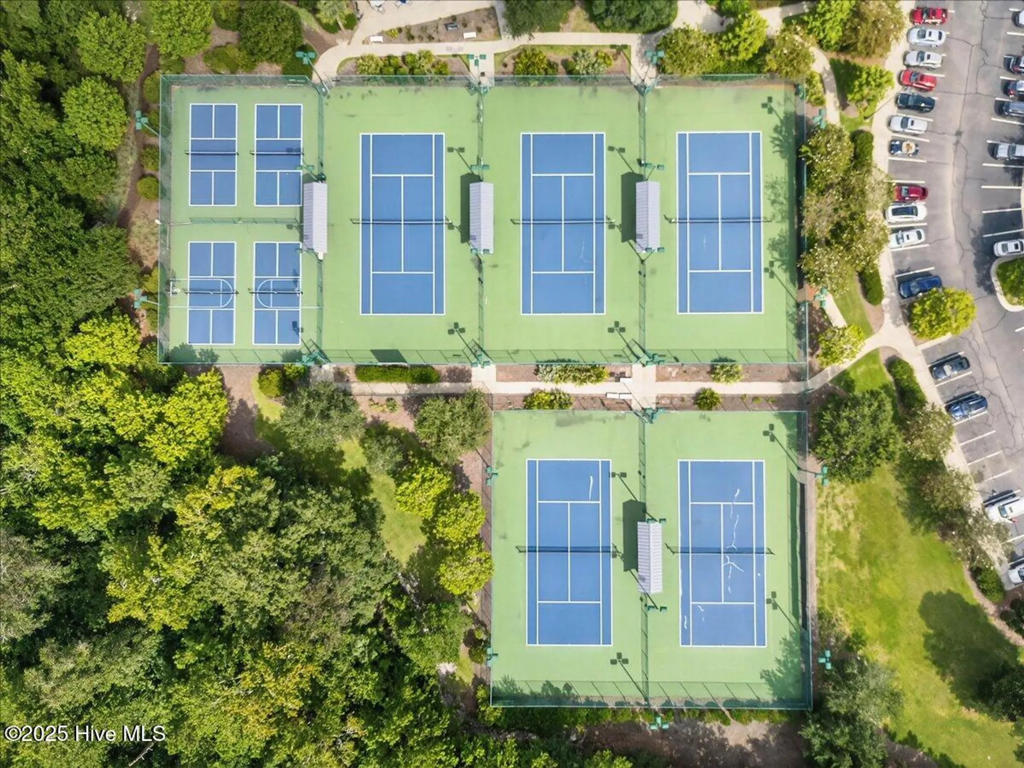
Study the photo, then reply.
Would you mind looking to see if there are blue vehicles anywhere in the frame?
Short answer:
Yes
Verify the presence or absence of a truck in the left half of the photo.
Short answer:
No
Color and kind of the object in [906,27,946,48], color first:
white car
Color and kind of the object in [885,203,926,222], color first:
white car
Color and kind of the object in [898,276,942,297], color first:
blue car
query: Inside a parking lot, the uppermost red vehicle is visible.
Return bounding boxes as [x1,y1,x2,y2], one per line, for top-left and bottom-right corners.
[909,5,949,27]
